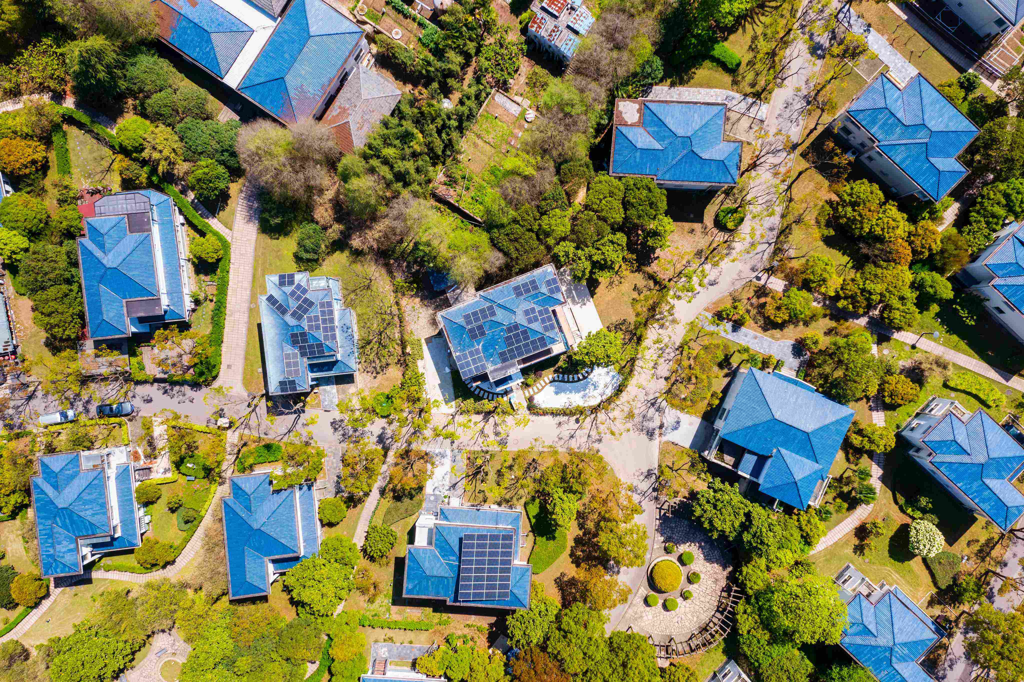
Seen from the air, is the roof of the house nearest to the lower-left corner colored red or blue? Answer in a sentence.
In this view, the roof of the house nearest to the lower-left corner is blue.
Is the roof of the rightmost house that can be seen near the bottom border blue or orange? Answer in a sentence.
The roof of the rightmost house that can be seen near the bottom border looks blue in the image.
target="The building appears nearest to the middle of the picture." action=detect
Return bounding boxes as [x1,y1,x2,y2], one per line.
[439,262,580,392]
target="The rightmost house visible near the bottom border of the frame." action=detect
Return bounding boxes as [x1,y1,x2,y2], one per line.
[821,552,949,682]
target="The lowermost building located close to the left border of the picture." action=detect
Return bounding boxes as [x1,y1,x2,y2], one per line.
[29,444,154,580]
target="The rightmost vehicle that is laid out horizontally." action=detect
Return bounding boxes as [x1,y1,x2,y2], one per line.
[96,401,137,418]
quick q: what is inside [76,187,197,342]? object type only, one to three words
house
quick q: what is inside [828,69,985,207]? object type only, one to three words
house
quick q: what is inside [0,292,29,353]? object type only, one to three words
building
